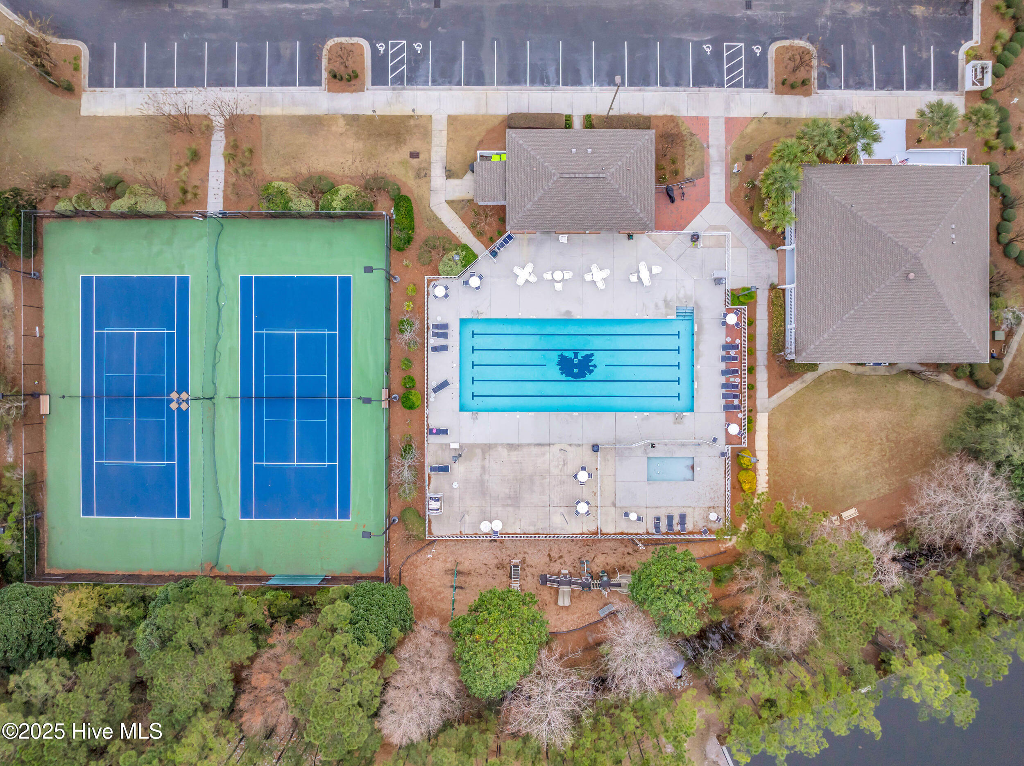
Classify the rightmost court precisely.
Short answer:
tennis court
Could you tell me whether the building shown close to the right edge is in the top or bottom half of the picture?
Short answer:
top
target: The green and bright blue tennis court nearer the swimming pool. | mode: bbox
[215,218,390,575]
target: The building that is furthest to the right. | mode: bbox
[776,146,990,364]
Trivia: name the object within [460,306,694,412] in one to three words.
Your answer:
swimming pool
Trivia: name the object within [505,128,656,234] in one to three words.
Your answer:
building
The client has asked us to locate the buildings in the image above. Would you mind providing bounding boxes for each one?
[776,146,990,364]
[505,128,656,234]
